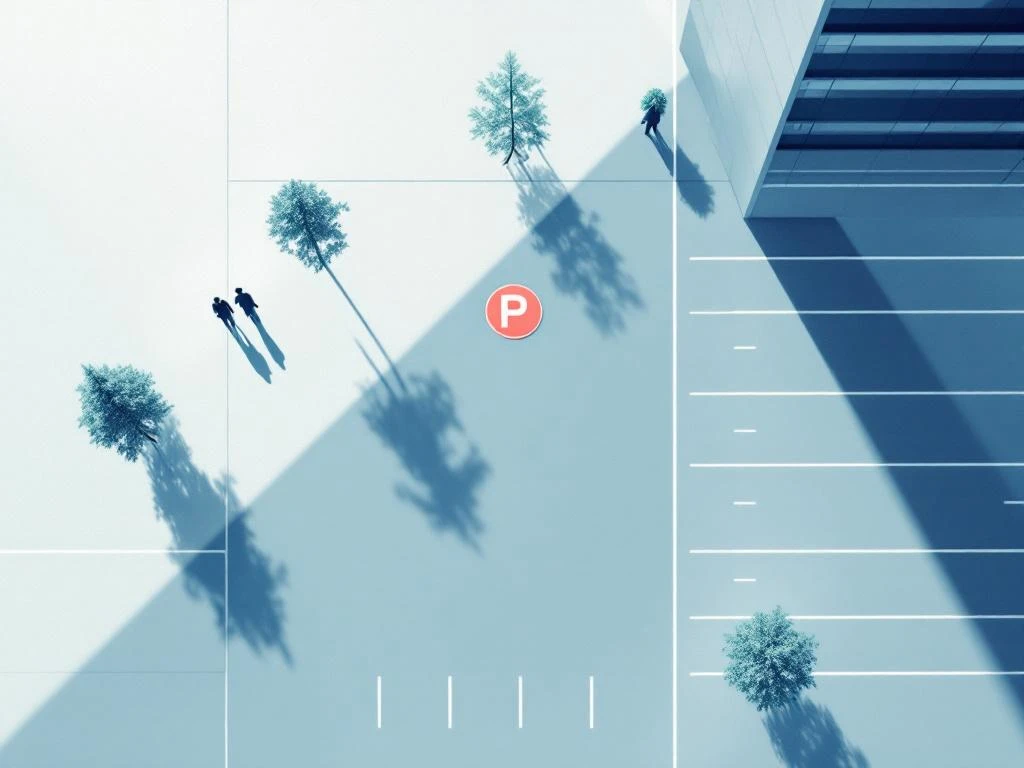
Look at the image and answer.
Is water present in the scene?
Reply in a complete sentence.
No, there's no water in this view.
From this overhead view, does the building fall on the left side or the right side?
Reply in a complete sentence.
The building appears in the right half of the scene.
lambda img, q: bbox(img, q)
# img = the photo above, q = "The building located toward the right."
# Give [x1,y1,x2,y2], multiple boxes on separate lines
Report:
[680,0,1024,217]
